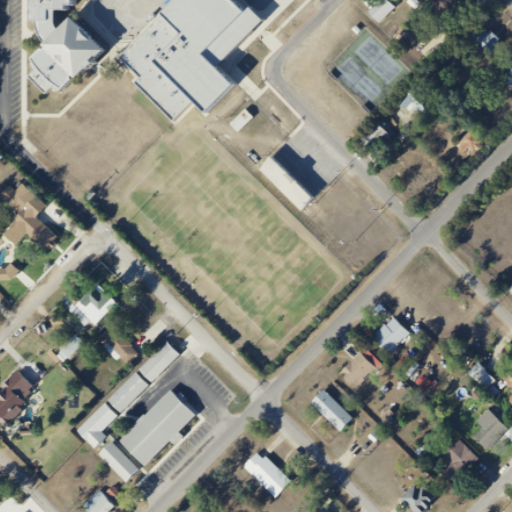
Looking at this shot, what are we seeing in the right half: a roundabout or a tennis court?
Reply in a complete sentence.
There is a tennis court in the right half.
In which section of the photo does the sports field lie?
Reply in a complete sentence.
Look in the center portion of the view to spot the sports field.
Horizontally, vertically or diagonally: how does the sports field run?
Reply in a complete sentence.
I'd say the sports field is aligned diagonally in the picture.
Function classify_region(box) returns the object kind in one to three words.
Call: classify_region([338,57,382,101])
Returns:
tennis court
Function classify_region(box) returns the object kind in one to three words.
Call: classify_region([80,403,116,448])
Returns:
shed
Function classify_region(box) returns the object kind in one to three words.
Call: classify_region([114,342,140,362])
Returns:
house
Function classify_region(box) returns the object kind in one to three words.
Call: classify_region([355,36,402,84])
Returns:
tennis court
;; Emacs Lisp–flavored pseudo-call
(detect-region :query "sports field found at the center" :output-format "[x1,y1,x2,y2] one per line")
[127,130,342,346]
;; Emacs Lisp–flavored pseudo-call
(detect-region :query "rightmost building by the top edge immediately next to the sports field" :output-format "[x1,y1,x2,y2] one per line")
[116,0,261,120]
